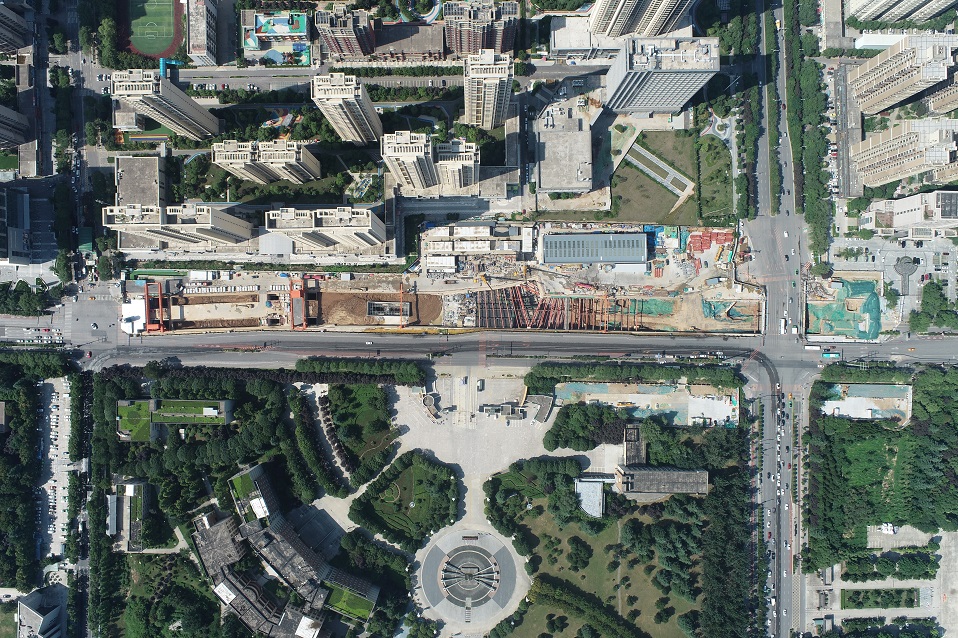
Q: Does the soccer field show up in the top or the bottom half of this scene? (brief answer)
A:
top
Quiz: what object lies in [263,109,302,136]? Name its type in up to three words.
playground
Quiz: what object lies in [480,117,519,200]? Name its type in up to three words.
building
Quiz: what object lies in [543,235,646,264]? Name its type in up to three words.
shed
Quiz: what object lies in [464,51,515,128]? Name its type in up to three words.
building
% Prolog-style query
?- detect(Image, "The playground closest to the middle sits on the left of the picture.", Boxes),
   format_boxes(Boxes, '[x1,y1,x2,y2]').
[345,173,383,203]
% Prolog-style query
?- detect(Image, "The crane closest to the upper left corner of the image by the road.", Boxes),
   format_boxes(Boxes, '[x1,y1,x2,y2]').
[143,283,171,332]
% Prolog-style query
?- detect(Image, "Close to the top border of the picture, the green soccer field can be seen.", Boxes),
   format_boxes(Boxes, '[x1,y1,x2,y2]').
[119,0,183,58]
